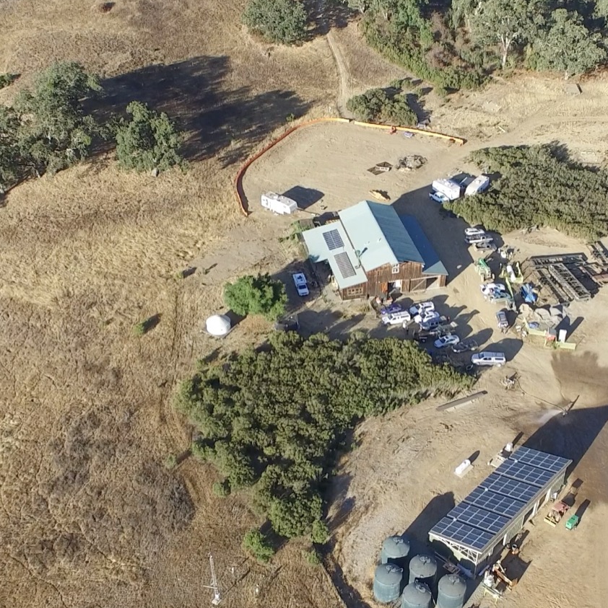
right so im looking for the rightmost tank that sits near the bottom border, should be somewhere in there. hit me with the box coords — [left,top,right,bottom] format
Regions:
[438,571,468,608]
